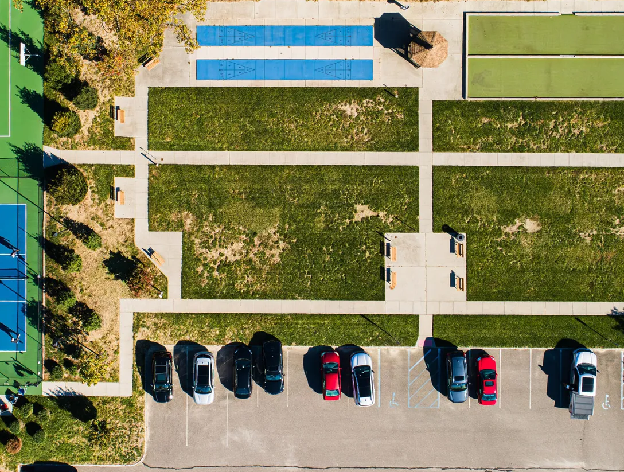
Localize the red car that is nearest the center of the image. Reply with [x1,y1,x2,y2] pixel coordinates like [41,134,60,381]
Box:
[319,350,342,399]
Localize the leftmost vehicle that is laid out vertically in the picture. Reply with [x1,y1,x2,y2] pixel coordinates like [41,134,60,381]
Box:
[150,350,175,401]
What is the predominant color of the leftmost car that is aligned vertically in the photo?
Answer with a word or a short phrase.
black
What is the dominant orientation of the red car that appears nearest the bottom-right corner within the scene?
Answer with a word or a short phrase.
up and down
